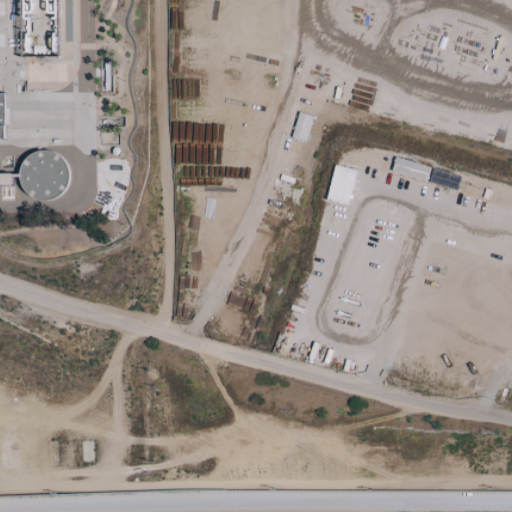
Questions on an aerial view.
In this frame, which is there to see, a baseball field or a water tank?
water tank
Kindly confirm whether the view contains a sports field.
No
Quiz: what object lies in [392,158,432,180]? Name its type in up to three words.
building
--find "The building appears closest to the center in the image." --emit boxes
[328,164,358,205]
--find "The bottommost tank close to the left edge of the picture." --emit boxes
[12,148,72,201]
